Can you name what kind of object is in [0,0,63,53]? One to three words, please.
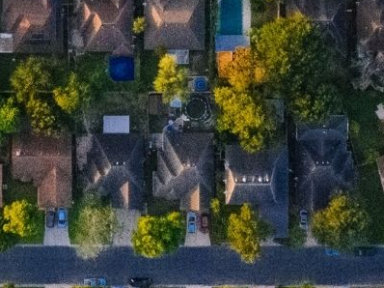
house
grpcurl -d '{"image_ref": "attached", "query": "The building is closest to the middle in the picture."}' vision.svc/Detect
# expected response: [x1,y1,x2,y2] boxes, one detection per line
[152,132,215,215]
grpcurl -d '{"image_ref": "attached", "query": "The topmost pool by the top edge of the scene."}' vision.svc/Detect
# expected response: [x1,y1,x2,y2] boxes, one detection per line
[218,0,244,36]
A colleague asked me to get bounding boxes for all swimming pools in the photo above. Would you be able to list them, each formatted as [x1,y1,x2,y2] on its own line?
[110,56,134,81]
[218,0,244,36]
[194,77,206,91]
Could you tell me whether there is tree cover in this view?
Yes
